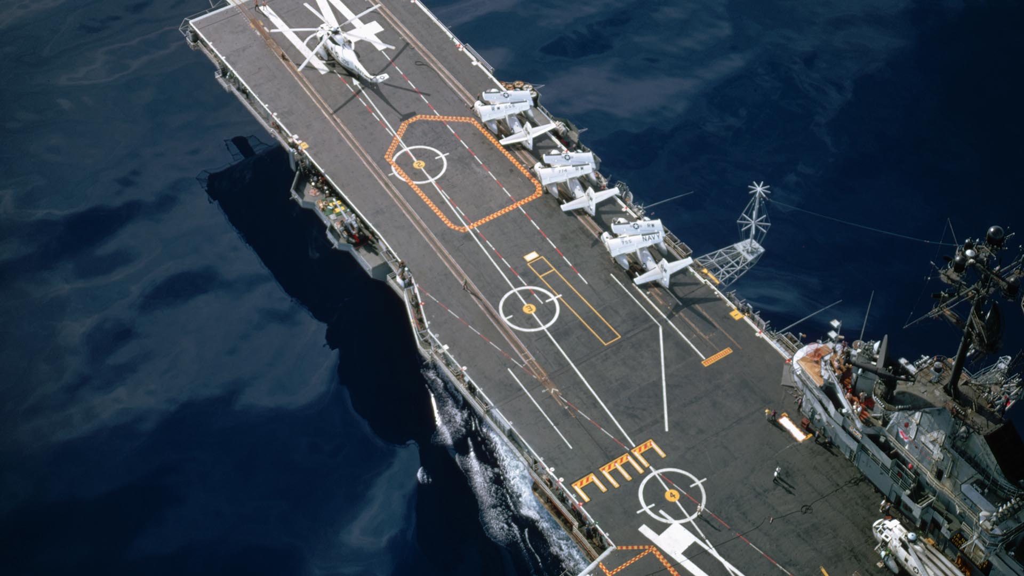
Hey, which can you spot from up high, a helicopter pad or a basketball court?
helicopter pad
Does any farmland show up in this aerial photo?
No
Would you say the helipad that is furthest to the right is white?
Yes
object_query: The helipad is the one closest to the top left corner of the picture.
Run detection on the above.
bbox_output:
[388,146,450,184]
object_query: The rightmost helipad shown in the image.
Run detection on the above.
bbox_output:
[637,468,707,524]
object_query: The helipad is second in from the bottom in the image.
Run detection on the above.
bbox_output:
[499,286,562,331]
